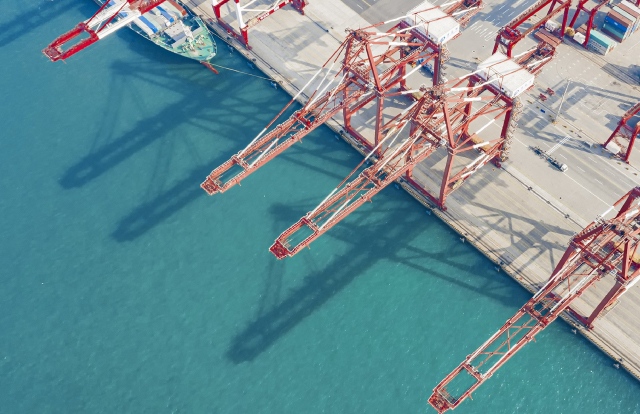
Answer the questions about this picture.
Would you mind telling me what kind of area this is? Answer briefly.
port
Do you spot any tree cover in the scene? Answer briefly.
No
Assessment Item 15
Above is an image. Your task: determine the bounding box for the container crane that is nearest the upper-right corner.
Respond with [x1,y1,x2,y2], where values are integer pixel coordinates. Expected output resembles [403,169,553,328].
[563,0,611,48]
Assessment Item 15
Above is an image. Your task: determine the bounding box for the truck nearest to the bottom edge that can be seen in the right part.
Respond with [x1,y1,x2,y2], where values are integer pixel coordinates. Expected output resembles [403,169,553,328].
[528,141,564,169]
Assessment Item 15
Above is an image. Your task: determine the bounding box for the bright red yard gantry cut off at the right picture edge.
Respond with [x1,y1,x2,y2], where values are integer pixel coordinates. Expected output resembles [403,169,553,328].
[601,92,640,164]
